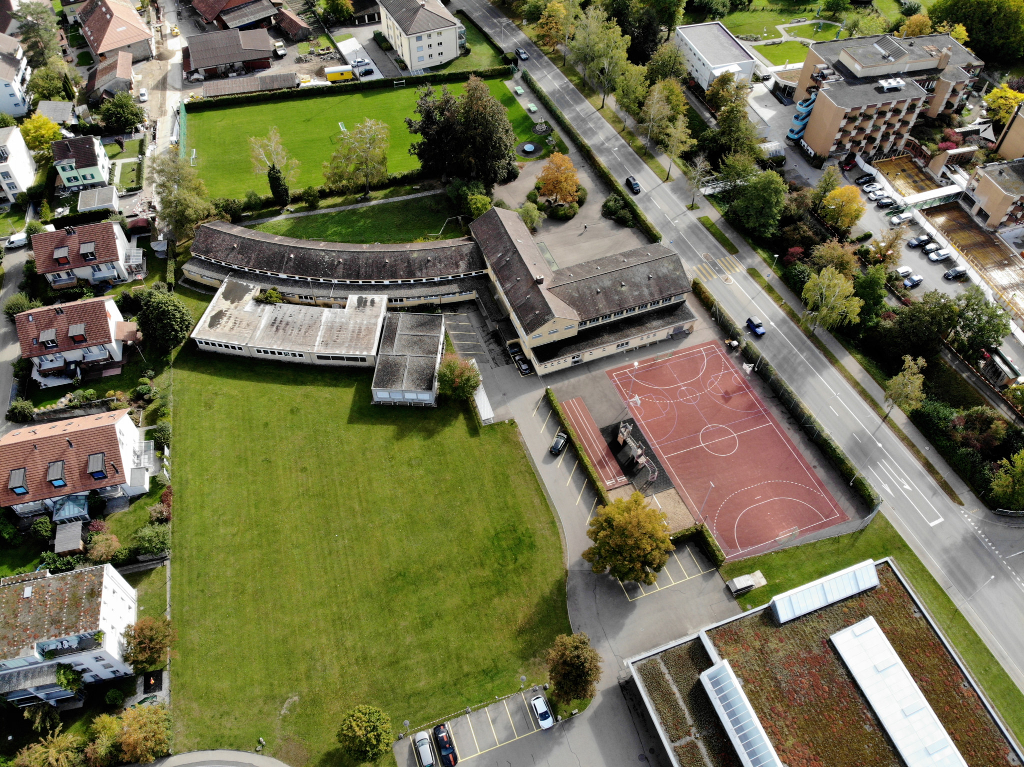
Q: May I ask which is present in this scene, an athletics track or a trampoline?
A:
athletics track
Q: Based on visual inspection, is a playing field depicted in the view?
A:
Yes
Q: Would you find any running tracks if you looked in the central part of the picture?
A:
Yes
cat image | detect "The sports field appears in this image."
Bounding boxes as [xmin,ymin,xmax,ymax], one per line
[184,76,568,202]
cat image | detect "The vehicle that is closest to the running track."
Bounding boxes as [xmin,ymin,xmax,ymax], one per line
[549,431,567,454]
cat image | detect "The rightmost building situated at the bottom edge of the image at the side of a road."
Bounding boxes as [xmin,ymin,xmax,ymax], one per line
[618,554,1024,767]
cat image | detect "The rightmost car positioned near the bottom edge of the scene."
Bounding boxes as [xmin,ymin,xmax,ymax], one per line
[531,697,553,733]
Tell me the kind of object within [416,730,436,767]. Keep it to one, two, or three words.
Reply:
car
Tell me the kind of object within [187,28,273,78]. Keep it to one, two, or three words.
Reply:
shed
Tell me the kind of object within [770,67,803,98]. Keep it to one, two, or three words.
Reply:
building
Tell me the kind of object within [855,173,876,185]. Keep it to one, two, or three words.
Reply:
vehicle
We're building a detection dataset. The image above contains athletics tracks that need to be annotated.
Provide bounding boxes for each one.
[560,397,629,490]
